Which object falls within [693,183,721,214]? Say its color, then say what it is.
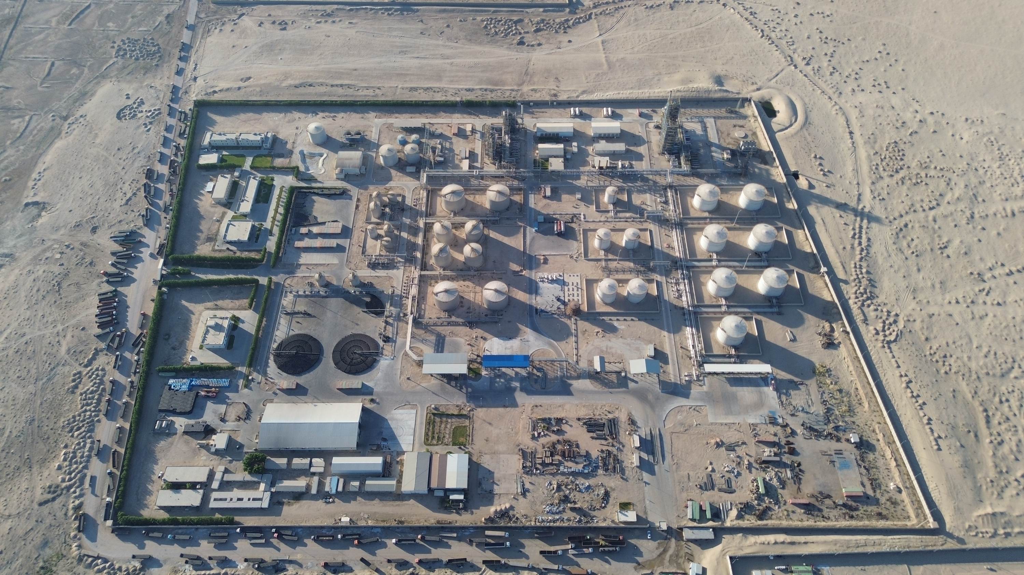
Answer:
white storage tank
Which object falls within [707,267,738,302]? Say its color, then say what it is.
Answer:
white storage tank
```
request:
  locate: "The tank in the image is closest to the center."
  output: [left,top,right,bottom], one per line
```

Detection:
[482,280,510,316]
